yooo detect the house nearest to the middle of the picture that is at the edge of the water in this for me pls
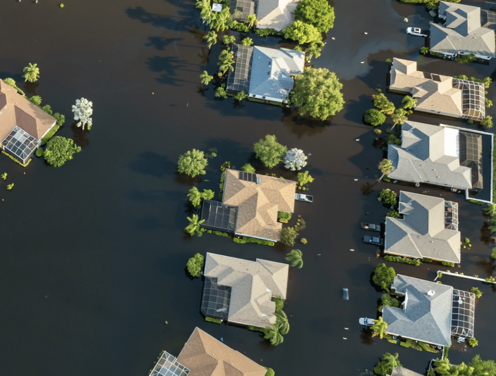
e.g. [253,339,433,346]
[200,168,296,242]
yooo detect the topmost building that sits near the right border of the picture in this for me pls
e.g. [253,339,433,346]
[429,2,496,61]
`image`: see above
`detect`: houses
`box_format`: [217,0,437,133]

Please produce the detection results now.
[200,168,296,242]
[387,57,489,123]
[228,0,307,35]
[225,43,305,103]
[198,253,289,328]
[382,191,461,264]
[380,276,474,347]
[386,121,484,192]
[149,327,267,376]
[0,78,57,166]
[429,2,496,61]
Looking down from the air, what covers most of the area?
water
